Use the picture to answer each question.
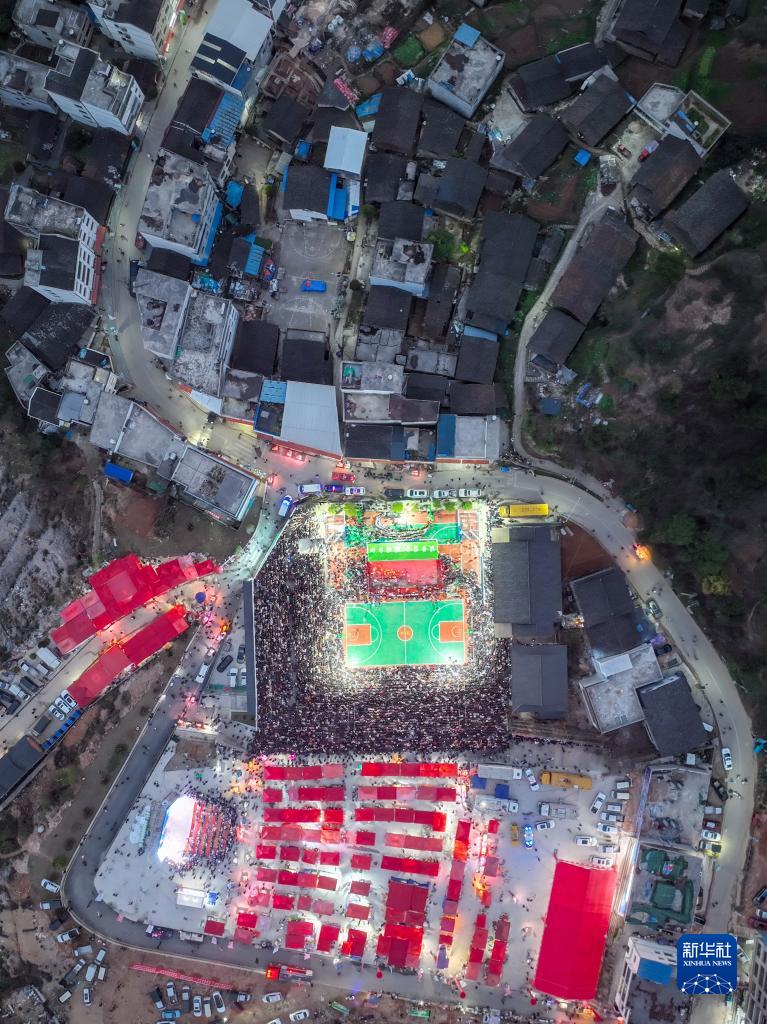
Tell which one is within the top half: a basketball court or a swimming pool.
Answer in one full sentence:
It is a basketball court that can be seen within the top half.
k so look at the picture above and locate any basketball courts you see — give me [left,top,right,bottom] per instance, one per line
[330,511,479,588]
[278,224,345,332]
[346,601,466,667]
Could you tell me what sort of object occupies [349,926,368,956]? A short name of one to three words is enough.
tent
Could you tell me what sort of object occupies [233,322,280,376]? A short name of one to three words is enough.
house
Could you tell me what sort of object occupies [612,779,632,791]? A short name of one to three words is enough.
vehicle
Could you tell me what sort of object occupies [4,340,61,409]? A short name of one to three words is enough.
building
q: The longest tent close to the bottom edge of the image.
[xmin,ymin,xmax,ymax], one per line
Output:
[530,854,617,1000]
